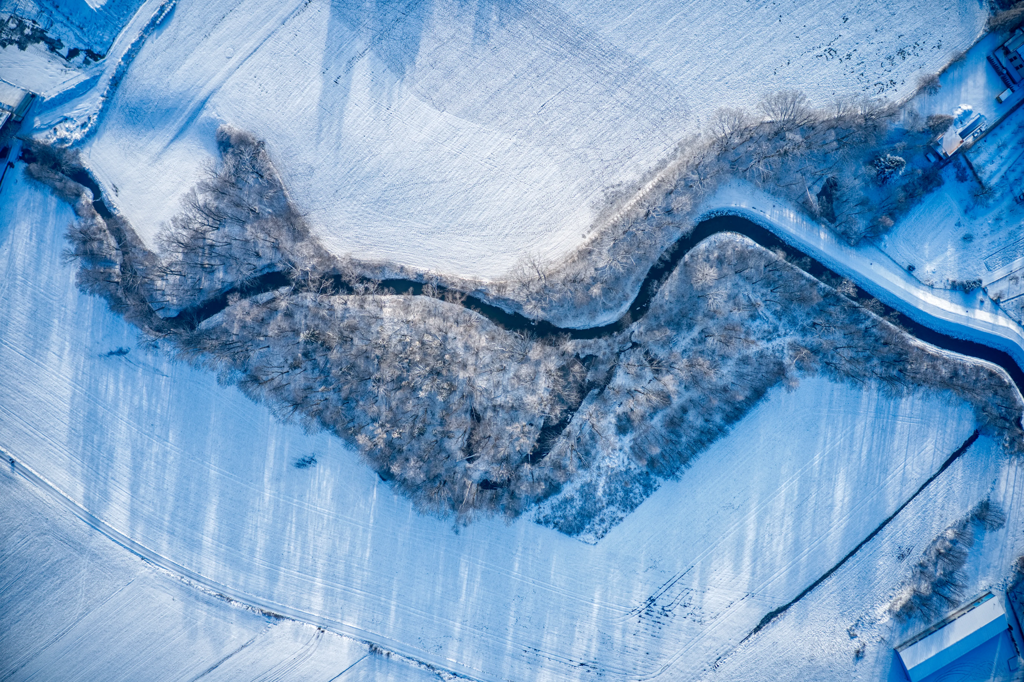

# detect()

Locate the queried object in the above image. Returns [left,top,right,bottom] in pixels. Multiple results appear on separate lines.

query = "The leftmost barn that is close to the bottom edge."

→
[894,591,1015,682]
